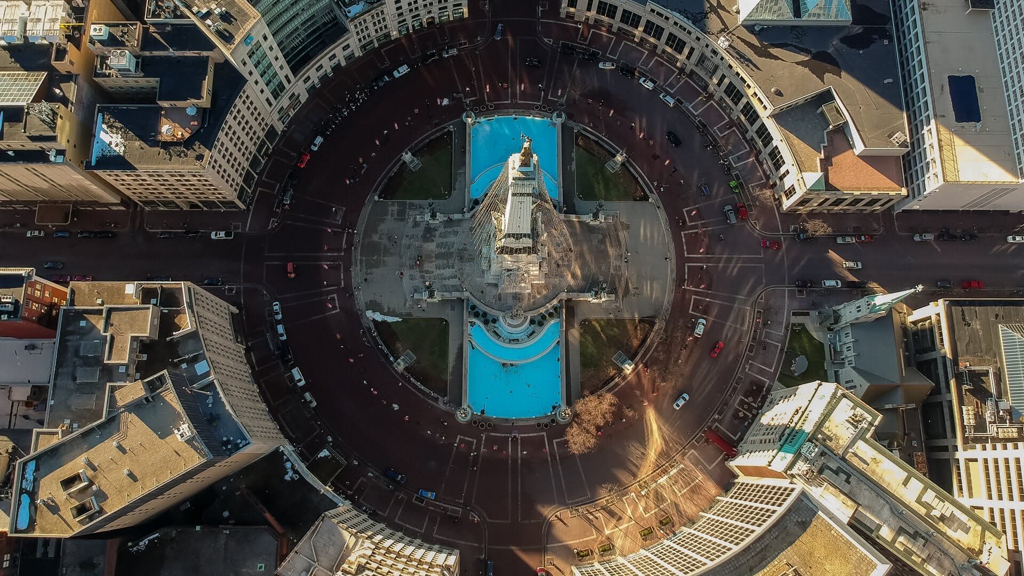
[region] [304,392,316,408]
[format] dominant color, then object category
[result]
gray vehicle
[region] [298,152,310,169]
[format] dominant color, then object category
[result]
red vehicle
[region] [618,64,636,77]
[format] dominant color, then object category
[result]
black vehicle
